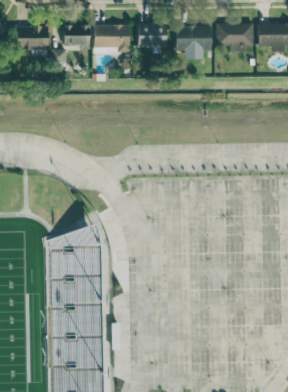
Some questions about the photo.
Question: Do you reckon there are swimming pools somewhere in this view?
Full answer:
Yes, the image includes a swimming pool.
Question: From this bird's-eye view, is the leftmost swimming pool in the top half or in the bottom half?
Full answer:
The leftmost swimming pool sits in the top half of the picture.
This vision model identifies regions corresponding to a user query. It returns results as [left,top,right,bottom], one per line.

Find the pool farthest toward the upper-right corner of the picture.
[267,52,288,72]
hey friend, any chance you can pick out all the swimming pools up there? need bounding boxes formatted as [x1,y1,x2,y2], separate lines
[94,54,120,74]
[267,52,288,72]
